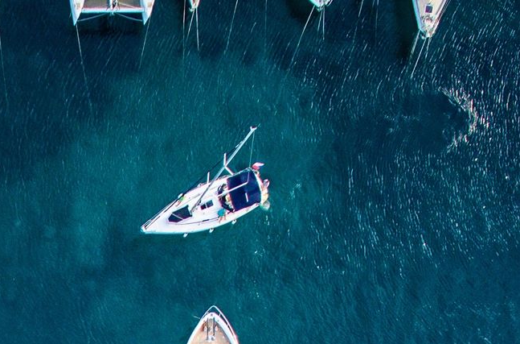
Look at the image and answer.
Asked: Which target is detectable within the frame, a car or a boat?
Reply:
boat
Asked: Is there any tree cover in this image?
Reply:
No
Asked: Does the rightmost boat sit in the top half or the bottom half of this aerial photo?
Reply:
top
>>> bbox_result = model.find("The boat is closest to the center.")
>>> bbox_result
[138,120,269,240]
